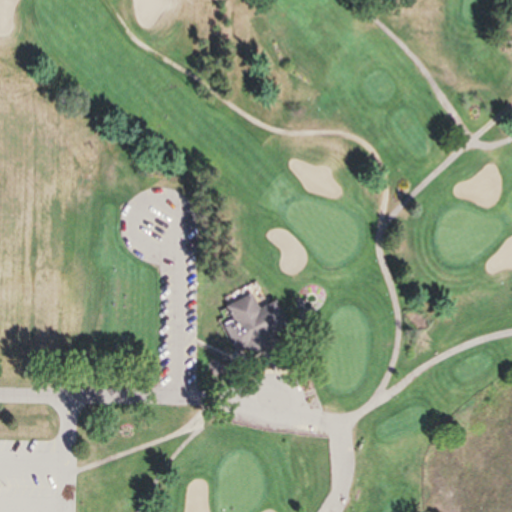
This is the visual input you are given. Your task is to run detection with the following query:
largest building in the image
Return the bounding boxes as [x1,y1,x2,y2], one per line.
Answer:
[227,292,280,350]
